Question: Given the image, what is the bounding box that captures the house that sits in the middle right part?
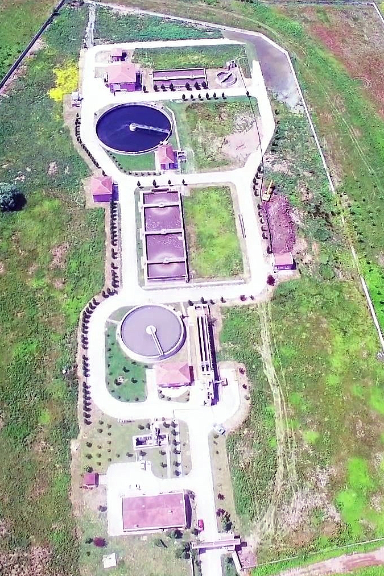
[271,253,292,270]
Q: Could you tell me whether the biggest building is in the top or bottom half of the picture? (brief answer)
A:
bottom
